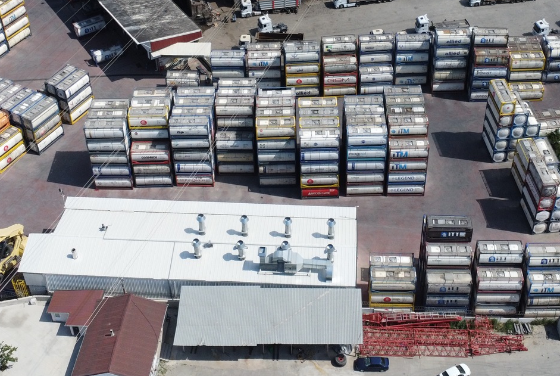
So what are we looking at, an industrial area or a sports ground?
industrial area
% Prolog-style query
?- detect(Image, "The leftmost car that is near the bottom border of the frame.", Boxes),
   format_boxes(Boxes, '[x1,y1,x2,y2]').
[354,355,390,373]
